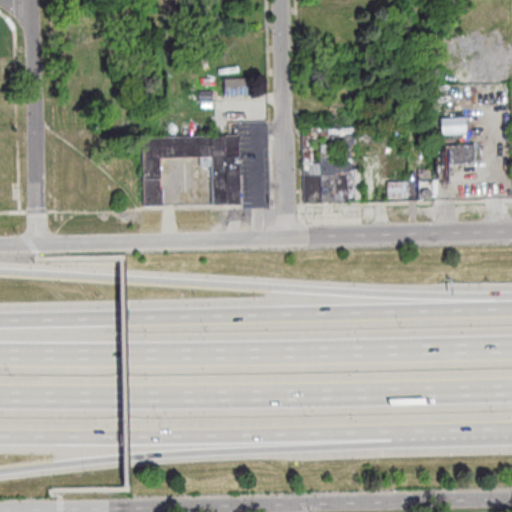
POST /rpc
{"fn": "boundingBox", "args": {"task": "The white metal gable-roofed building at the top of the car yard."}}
[441,117,469,137]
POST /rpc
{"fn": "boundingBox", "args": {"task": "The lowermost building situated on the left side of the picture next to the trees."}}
[144,135,240,206]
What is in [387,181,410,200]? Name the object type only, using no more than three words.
building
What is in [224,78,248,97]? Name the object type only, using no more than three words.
building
